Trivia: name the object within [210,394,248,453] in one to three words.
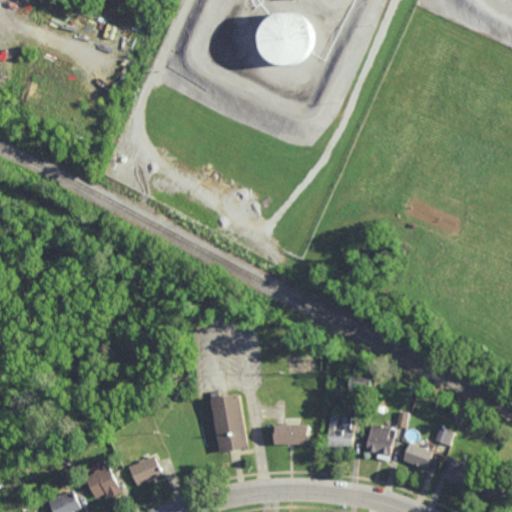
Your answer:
building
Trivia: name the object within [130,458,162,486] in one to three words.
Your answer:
house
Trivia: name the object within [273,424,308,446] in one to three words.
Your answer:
house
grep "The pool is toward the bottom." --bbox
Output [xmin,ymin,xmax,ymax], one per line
[404,428,421,444]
